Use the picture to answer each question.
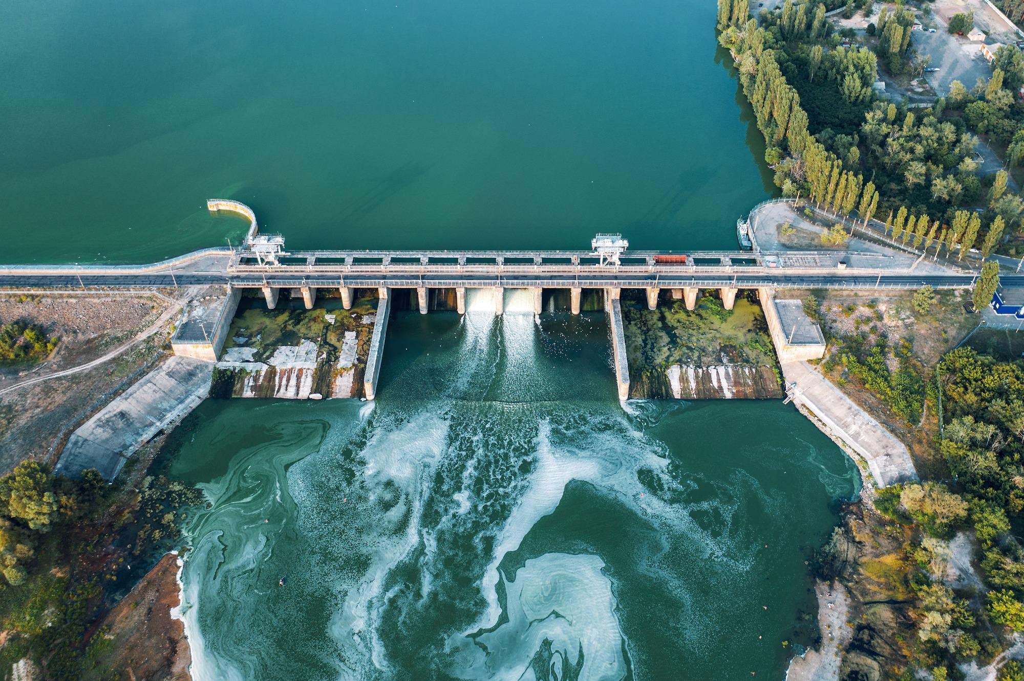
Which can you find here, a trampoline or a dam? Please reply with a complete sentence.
Visible in the photo is a dam.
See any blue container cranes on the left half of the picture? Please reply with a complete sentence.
No, no blue container crane can be made out on the left half of the picture.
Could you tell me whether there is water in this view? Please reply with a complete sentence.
Yes, water can be seen from above here.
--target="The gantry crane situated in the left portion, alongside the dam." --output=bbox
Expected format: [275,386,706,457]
[249,230,287,265]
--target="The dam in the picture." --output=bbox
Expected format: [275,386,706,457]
[224,247,880,314]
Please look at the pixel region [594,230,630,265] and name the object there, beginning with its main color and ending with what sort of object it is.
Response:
white container crane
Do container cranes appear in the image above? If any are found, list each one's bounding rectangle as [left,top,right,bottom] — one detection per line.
[249,230,287,265]
[594,230,630,265]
